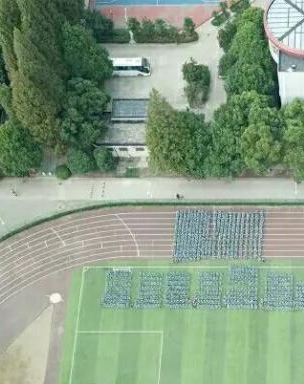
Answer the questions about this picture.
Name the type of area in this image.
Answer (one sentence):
It's a sports ground.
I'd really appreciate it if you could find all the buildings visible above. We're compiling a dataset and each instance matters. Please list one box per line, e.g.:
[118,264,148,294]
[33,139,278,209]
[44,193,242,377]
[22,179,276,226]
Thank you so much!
[265,0,304,113]
[95,97,150,156]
